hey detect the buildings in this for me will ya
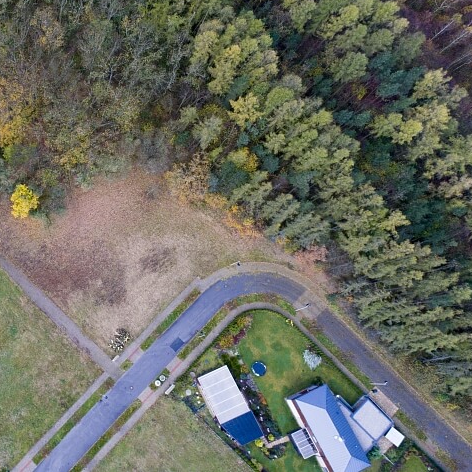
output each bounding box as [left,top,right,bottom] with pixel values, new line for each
[196,364,263,445]
[285,383,376,472]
